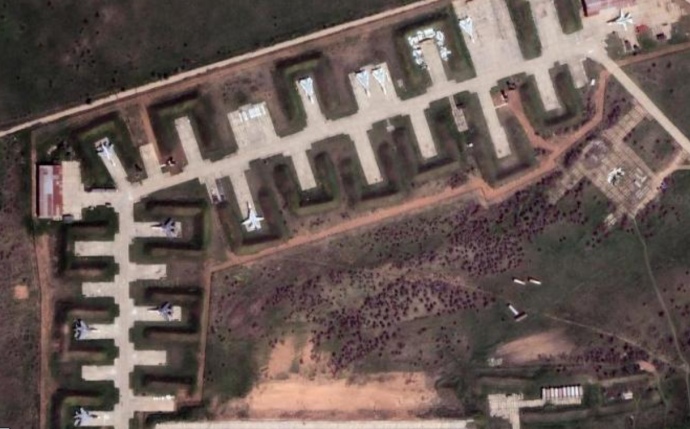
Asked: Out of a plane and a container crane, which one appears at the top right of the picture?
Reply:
plane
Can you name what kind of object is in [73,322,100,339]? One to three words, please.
airplane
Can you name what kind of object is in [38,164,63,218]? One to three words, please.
hangar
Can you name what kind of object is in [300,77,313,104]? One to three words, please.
airplane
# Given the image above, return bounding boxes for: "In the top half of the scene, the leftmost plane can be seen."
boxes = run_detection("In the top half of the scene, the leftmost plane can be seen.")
[98,141,115,166]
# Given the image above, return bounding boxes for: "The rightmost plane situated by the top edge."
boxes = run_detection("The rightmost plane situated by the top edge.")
[606,10,635,32]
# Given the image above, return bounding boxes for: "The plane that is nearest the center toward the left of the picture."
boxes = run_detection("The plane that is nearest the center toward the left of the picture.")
[241,202,263,232]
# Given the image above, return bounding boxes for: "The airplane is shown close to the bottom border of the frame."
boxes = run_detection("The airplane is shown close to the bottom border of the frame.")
[73,408,100,426]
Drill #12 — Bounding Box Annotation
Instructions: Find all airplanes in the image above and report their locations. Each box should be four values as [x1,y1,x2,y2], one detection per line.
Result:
[73,322,100,339]
[606,10,635,32]
[98,141,115,166]
[241,202,263,232]
[460,18,474,43]
[148,303,173,321]
[371,67,385,95]
[150,220,177,238]
[73,408,100,426]
[356,69,371,96]
[300,77,313,104]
